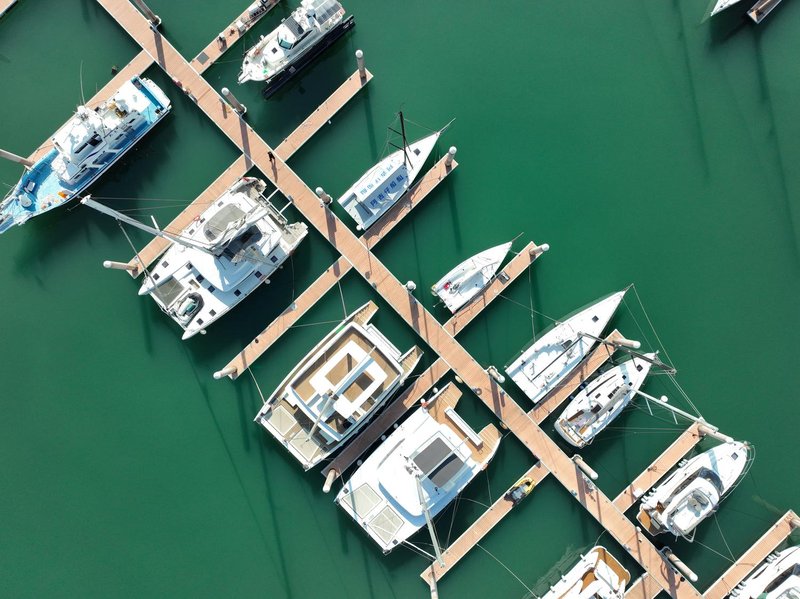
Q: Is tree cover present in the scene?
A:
No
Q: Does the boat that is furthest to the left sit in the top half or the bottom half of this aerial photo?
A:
top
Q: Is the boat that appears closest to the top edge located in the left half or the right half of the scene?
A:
right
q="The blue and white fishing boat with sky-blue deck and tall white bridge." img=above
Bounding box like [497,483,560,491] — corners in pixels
[0,62,173,236]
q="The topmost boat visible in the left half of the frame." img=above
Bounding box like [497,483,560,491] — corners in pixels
[233,0,364,94]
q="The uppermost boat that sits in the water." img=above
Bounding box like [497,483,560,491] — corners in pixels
[699,0,754,27]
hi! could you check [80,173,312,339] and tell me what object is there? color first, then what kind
white boat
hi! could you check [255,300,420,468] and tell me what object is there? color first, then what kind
white boat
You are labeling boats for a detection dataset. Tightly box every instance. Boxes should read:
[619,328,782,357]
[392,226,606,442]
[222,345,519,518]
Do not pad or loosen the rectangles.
[502,284,682,401]
[80,173,312,339]
[430,233,523,313]
[505,476,537,505]
[0,62,173,236]
[699,0,754,27]
[636,444,764,543]
[534,544,630,599]
[720,545,800,599]
[337,385,503,568]
[338,109,455,230]
[171,293,201,327]
[233,0,364,94]
[552,353,725,452]
[255,300,420,468]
